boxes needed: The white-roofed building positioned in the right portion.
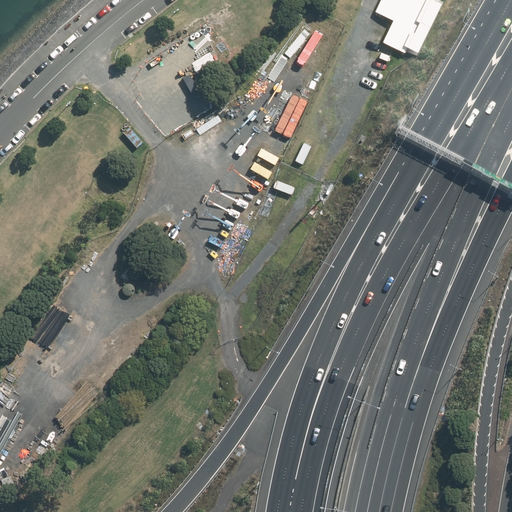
[375,0,444,54]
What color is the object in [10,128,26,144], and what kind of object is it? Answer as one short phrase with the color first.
white vehicle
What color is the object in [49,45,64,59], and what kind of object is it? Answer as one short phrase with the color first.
white car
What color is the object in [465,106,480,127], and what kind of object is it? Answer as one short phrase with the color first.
white vehicle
